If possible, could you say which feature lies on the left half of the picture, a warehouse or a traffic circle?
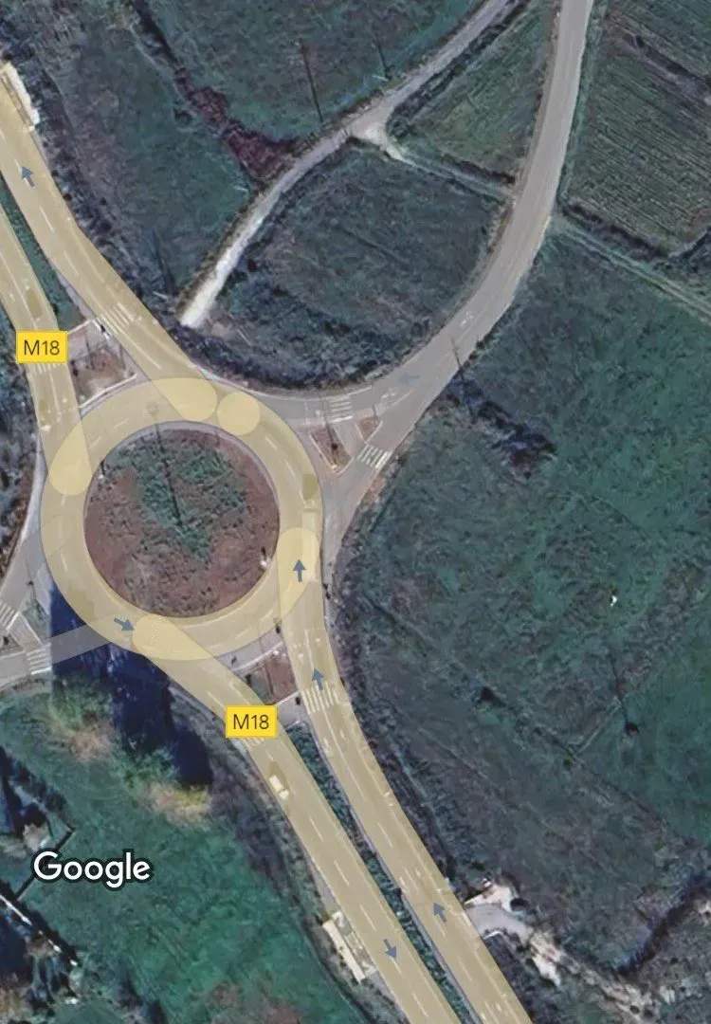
traffic circle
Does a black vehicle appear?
No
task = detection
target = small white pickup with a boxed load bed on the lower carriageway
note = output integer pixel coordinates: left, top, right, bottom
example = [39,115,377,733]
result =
[267,773,293,802]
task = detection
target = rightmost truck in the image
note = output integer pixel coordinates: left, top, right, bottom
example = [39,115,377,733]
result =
[300,498,322,573]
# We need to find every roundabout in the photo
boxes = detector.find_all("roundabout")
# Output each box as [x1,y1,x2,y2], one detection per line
[41,377,323,660]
